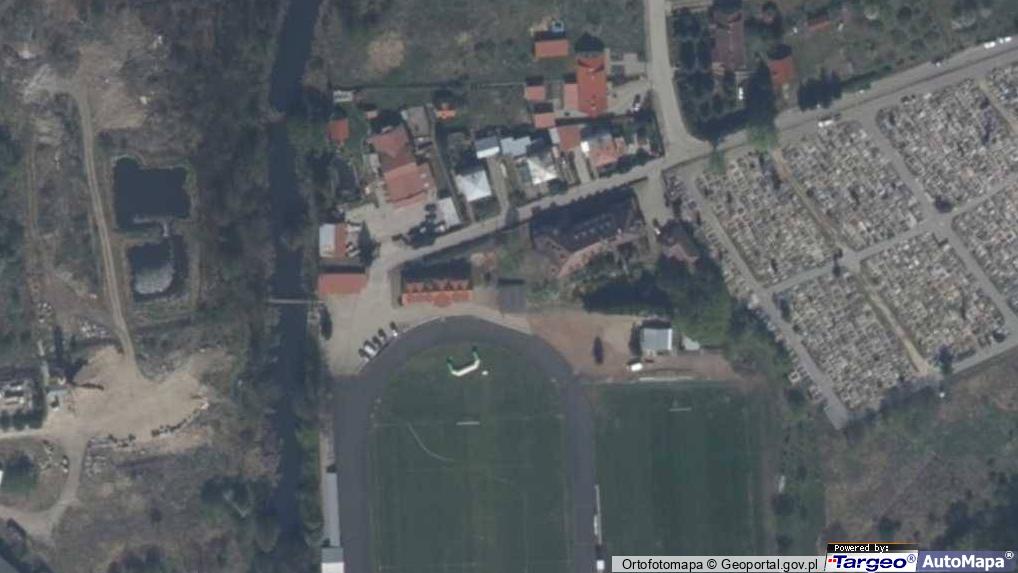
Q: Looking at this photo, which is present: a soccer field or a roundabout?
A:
soccer field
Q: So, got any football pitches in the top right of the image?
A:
No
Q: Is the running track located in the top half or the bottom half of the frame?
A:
bottom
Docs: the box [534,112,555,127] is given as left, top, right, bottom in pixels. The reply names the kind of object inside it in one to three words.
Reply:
building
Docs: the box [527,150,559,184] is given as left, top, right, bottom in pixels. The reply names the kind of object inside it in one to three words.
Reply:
house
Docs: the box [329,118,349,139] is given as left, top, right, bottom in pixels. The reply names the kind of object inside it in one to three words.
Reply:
shed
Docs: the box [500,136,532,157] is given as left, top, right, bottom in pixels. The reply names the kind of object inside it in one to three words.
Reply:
house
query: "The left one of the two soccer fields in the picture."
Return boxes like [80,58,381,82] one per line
[369,345,570,573]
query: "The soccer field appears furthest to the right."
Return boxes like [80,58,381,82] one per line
[596,387,766,573]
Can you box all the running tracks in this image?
[333,316,598,573]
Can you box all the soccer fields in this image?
[369,345,570,573]
[596,387,766,573]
